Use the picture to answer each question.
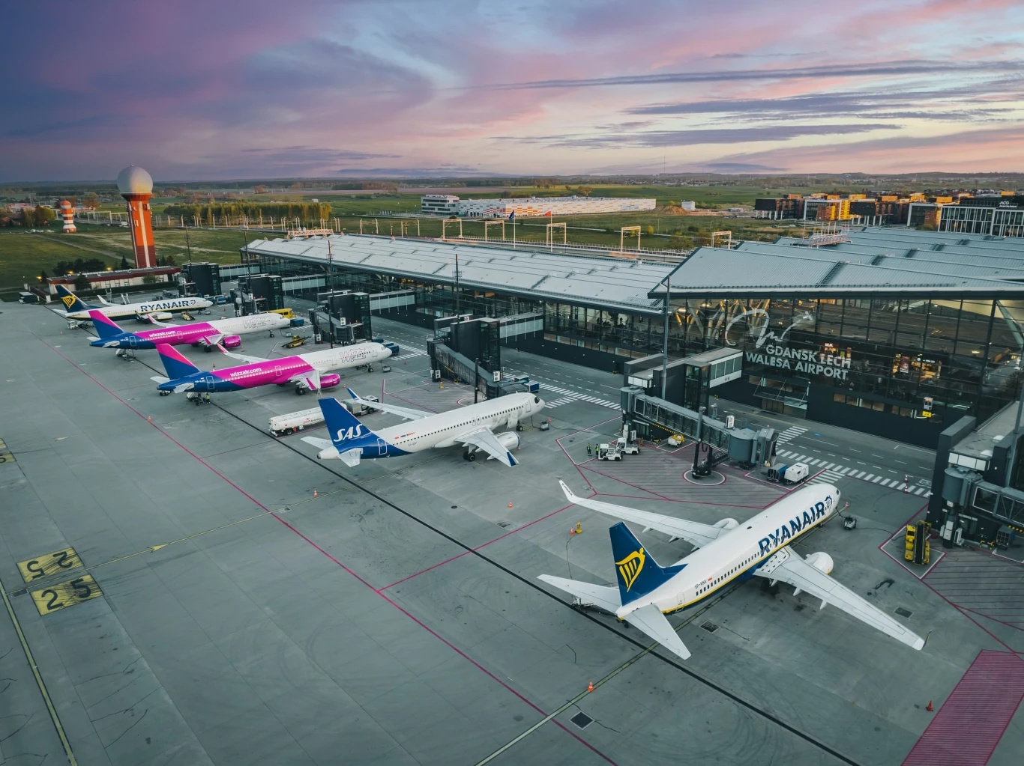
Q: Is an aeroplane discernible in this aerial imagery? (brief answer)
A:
Yes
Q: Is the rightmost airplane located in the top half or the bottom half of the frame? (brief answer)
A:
bottom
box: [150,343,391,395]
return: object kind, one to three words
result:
airplane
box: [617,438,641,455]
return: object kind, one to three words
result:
work vehicle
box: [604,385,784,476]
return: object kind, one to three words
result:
jet bridge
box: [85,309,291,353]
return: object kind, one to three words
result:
airplane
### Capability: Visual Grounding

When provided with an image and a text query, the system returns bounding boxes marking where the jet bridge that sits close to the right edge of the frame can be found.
[940,467,1024,543]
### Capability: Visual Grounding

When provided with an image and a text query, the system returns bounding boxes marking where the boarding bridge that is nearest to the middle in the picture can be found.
[415,340,508,402]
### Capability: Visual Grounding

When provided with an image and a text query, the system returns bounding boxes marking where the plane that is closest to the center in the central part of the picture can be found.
[301,393,544,470]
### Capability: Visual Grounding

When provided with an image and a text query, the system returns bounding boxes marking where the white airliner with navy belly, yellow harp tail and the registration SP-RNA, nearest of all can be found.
[532,482,938,664]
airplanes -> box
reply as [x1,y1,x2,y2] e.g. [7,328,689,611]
[301,393,544,470]
[532,482,938,664]
[49,283,214,325]
[150,343,391,395]
[85,309,291,353]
